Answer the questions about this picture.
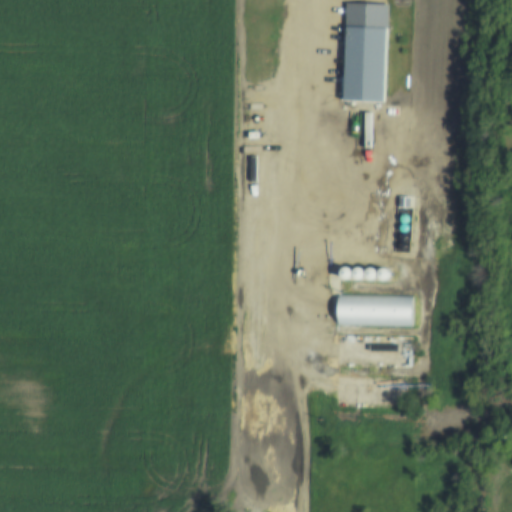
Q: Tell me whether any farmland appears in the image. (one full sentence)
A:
Yes, farmland shows up in the scene.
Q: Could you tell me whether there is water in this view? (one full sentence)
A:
No, there's no water in this view.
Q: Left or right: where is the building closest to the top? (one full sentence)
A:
The building closest to the top appears in the right half of the scene.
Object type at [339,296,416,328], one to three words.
building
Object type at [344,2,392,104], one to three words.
building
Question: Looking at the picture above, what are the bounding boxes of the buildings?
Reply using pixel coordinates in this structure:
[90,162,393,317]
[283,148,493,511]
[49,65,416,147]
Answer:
[339,296,416,328]
[402,196,414,209]
[344,2,392,104]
